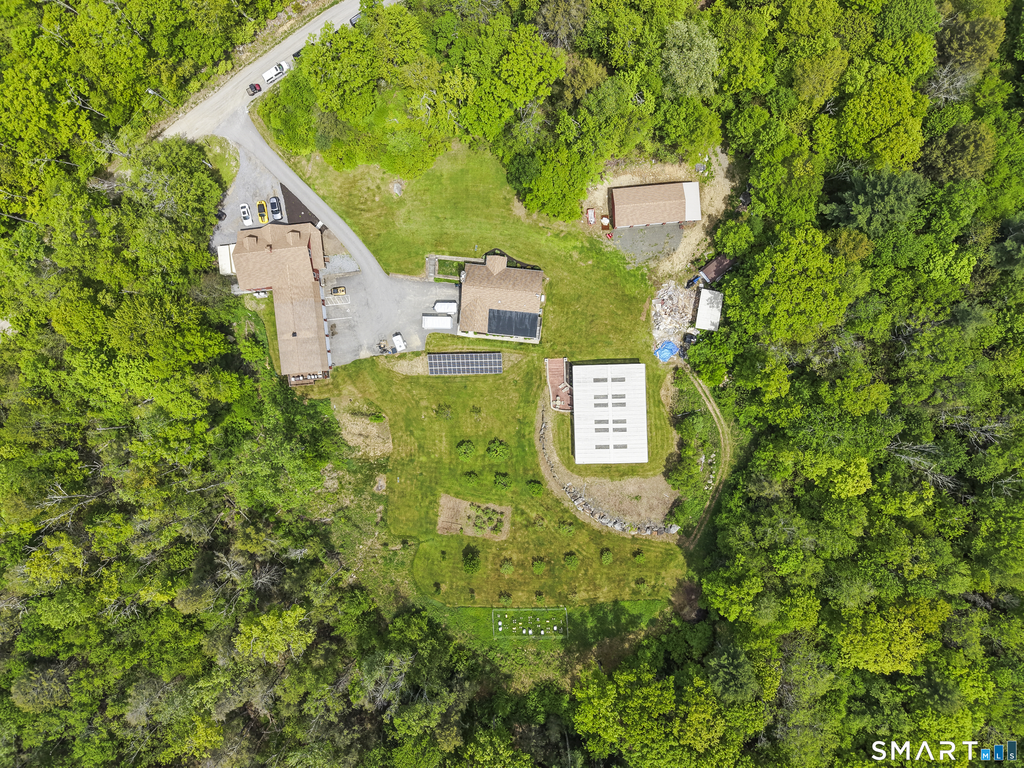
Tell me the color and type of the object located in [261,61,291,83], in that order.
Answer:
white truck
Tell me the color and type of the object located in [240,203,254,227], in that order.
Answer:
white car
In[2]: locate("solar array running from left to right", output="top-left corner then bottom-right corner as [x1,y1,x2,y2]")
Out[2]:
[428,353,502,374]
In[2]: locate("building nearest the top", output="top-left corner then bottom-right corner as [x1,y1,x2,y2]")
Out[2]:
[612,182,701,229]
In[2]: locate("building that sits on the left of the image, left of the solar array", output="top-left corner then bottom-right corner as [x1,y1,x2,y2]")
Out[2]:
[232,223,330,386]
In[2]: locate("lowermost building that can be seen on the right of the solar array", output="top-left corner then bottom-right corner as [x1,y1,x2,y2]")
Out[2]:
[567,364,649,464]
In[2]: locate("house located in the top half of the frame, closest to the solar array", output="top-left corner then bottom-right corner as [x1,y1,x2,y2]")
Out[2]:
[459,255,543,339]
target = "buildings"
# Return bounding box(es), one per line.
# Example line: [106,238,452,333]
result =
[612,182,701,229]
[699,253,734,284]
[232,223,330,386]
[567,364,649,464]
[459,255,543,339]
[693,289,723,331]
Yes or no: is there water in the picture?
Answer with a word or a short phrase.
No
